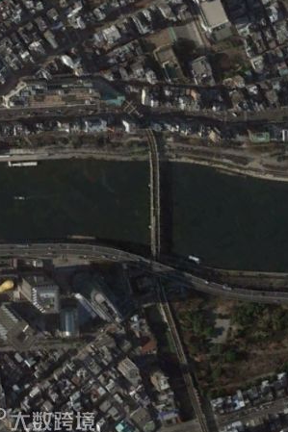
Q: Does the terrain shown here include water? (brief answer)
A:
Yes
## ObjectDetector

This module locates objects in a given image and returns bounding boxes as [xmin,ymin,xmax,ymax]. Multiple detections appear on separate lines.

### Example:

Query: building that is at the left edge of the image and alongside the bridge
[1,80,102,109]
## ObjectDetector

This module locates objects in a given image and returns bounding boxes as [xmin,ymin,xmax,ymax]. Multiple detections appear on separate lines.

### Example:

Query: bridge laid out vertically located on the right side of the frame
[140,114,213,432]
